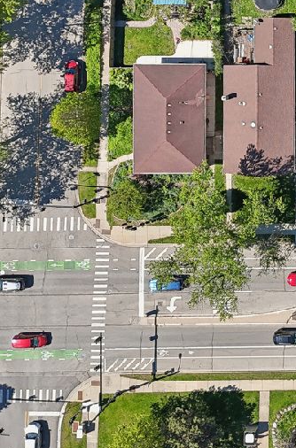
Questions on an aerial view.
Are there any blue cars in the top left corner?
No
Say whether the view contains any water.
No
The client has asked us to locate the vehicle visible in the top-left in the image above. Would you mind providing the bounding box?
[62,60,81,93]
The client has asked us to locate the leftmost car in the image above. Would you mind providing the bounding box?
[0,275,27,291]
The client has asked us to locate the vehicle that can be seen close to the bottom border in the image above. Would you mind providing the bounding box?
[24,422,44,448]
